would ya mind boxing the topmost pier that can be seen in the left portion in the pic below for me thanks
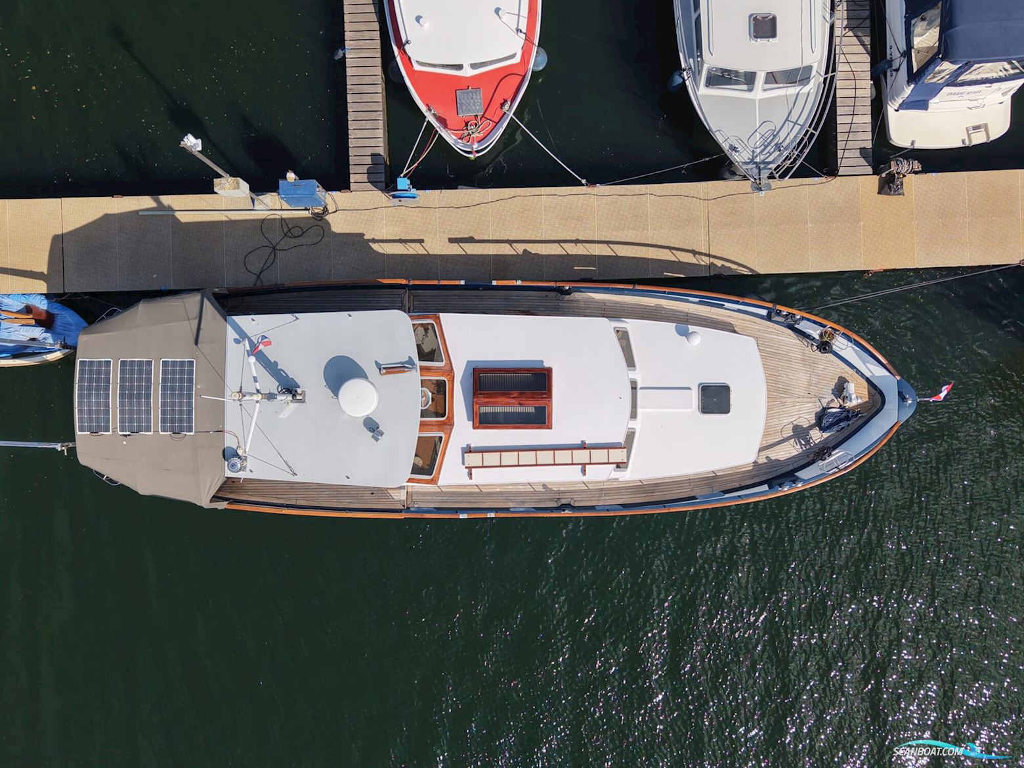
[344,0,395,191]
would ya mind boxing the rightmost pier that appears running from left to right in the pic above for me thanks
[709,169,1024,277]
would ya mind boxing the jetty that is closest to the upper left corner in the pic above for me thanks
[0,198,70,296]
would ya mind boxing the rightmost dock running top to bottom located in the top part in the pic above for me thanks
[828,0,873,177]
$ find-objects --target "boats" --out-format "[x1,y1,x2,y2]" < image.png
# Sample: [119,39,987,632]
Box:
[668,0,846,192]
[0,290,91,369]
[876,0,1024,151]
[0,278,954,517]
[382,0,545,166]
